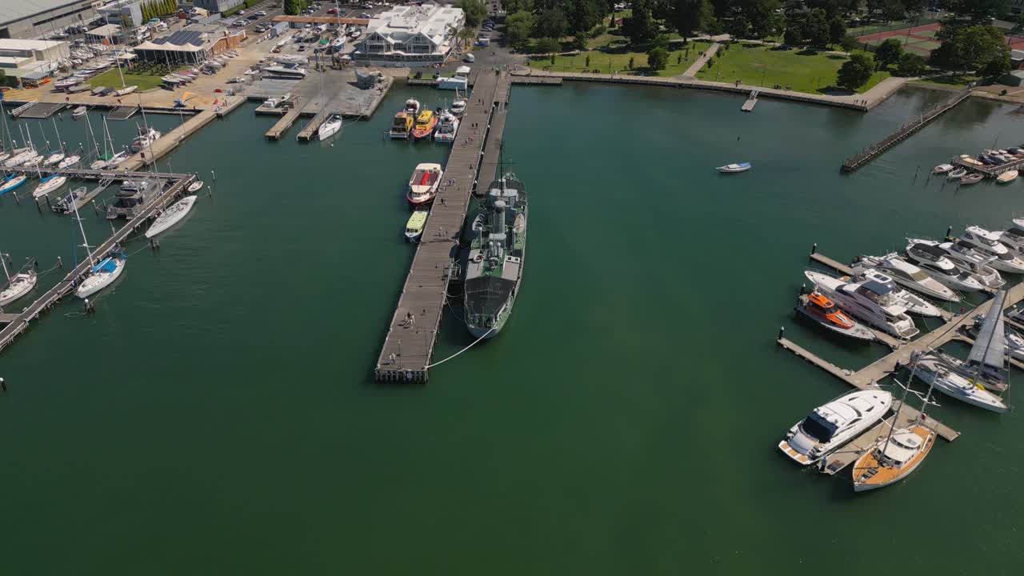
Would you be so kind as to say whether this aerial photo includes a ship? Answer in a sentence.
Yes, there's a ship down there.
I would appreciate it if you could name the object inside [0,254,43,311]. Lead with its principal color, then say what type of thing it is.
white boat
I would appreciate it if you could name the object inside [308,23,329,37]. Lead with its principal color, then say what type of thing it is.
white boat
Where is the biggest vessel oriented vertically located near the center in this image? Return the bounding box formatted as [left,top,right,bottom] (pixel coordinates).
[460,136,529,345]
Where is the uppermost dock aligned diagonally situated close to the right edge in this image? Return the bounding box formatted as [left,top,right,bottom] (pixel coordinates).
[842,87,973,172]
